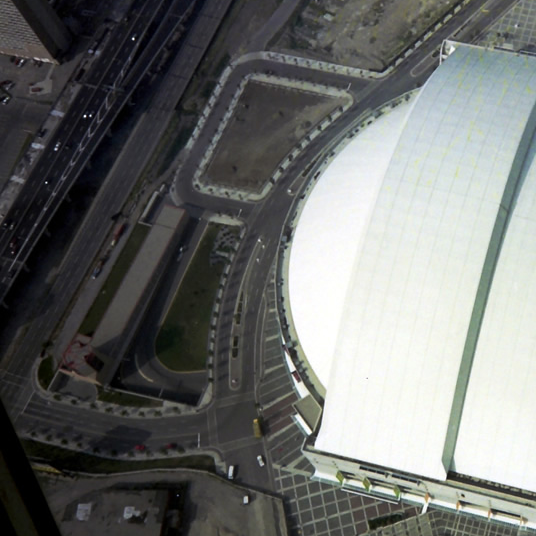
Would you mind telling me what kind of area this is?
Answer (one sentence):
The picture captures a sports ground.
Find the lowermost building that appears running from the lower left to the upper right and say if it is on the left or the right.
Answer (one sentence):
The lowermost building that appears running from the lower left to the upper right appears in the left half of the scene.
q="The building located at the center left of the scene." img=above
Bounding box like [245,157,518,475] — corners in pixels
[58,204,189,387]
